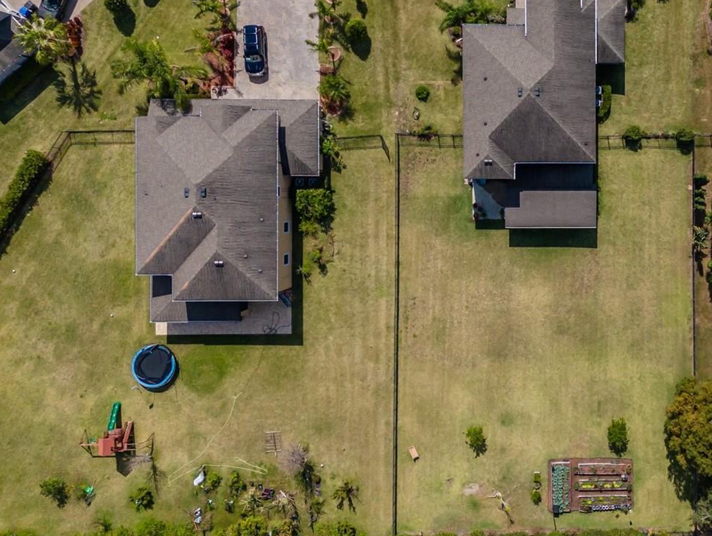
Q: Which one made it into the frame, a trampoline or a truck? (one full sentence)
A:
Visible in the photo is a trampoline.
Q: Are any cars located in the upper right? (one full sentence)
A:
No, no car can be made out in the upper right.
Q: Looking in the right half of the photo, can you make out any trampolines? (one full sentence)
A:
No, looking in the right half of the photo, there is no trampoline.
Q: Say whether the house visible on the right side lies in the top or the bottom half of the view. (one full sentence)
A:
It is in the top half that the house visible on the right side appears.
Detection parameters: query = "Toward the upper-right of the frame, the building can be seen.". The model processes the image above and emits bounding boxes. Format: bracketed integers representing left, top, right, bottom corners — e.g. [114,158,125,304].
[462,0,625,198]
